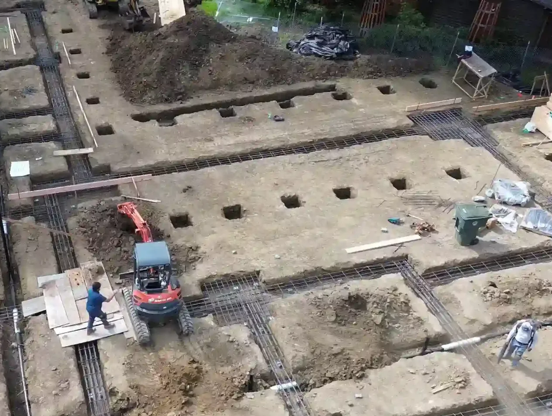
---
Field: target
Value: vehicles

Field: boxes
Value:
[83,0,147,37]
[117,199,195,340]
